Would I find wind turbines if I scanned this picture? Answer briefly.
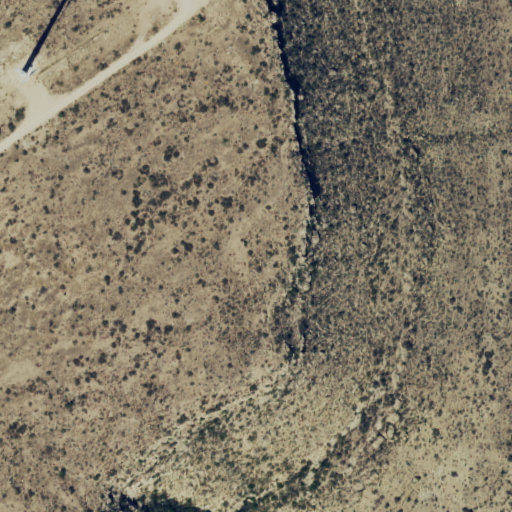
Yes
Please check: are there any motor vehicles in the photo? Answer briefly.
No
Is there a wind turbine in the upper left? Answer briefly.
Yes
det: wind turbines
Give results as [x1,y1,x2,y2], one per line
[8,50,44,102]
